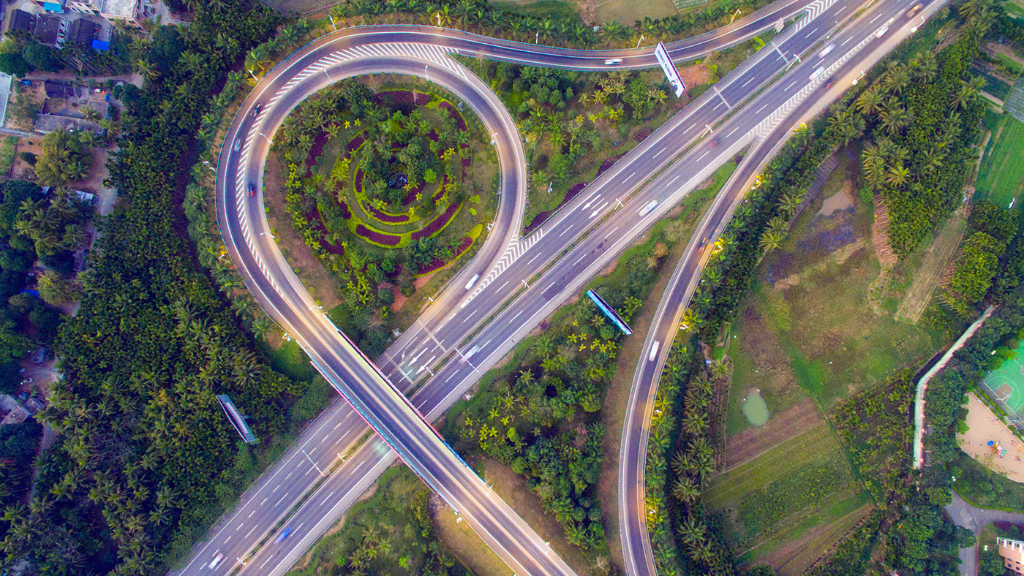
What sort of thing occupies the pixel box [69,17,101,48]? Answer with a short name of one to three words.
house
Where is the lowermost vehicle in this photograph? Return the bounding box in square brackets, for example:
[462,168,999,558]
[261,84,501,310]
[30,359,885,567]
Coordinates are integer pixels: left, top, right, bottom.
[208,553,222,569]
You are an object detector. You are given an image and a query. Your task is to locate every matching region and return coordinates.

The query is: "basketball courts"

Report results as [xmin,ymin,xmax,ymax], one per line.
[977,330,1024,422]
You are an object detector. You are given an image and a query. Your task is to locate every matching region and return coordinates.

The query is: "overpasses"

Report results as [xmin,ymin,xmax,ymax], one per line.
[307,329,470,492]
